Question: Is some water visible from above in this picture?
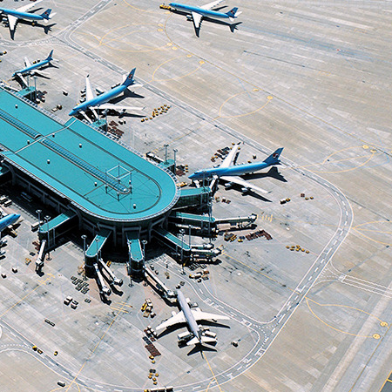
No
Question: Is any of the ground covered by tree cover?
No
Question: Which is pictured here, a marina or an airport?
airport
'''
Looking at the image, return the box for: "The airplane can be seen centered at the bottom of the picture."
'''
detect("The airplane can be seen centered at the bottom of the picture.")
[155,290,229,343]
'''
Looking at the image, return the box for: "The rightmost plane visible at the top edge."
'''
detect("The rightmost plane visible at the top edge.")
[169,0,241,27]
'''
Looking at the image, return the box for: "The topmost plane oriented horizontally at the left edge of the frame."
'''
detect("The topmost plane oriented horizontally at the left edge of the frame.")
[0,0,56,29]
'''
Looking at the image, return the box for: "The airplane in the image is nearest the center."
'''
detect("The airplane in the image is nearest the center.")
[189,140,285,191]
